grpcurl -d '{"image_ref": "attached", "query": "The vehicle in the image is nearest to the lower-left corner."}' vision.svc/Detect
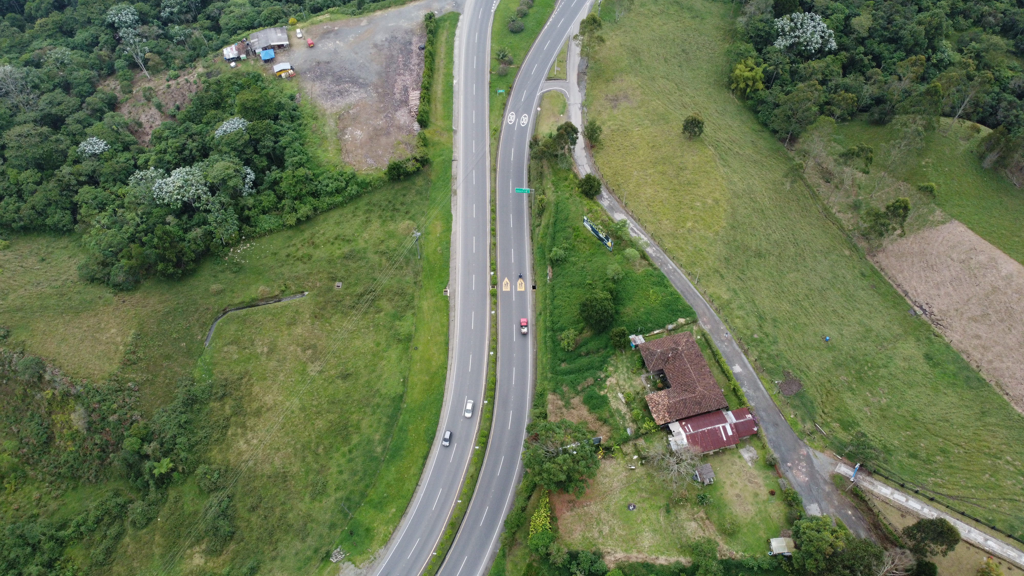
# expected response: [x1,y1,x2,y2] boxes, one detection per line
[441,430,453,448]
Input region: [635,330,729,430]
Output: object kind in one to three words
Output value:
house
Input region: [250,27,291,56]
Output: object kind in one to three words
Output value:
shed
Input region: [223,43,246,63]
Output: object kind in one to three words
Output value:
shed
